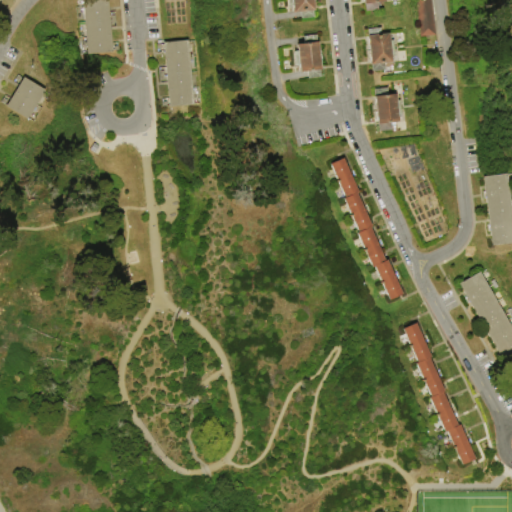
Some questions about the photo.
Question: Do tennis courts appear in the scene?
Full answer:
No, no tennis court can be seen from above.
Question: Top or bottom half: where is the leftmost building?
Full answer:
Seen from above, the leftmost building lies in the top half of the view.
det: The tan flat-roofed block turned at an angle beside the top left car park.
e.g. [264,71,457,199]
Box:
[7,76,44,118]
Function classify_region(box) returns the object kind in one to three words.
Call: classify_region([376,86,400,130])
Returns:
house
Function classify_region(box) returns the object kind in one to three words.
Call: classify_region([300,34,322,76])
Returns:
house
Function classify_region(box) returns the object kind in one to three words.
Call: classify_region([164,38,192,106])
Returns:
building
